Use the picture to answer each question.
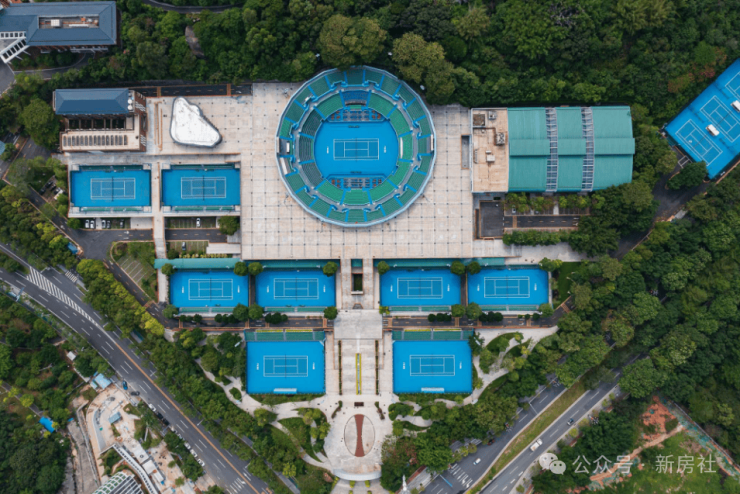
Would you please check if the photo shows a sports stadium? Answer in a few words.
Yes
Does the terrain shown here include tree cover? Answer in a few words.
Yes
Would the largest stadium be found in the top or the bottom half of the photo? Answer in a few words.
top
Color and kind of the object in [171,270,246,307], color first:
blue tennis court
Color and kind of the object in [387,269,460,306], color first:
blue tennis court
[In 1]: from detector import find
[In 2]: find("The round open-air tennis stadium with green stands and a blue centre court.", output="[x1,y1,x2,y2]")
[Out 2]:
[275,66,436,226]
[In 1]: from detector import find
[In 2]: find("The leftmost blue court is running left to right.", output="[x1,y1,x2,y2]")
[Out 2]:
[70,170,150,206]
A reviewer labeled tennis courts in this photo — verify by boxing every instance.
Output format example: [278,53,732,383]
[171,270,246,307]
[715,61,740,109]
[247,342,324,394]
[469,269,548,305]
[387,269,460,306]
[163,169,238,205]
[689,84,740,155]
[393,342,472,394]
[70,170,150,206]
[257,270,335,306]
[665,108,733,176]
